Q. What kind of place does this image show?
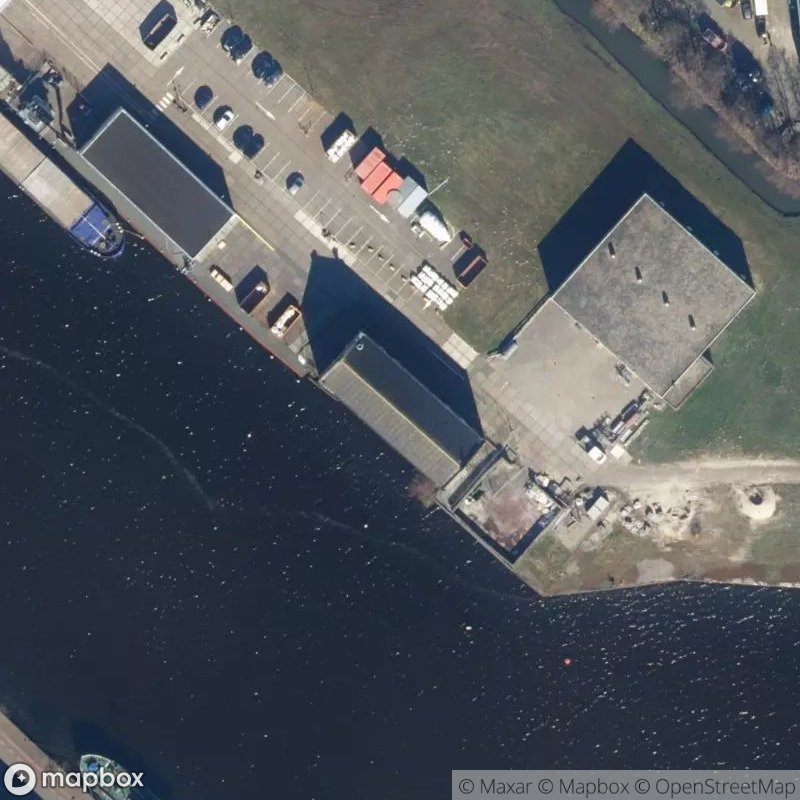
port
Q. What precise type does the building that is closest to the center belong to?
warehouse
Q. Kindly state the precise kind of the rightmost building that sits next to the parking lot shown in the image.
warehouse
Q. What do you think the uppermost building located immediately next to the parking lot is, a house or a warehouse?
warehouse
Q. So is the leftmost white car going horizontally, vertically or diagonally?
diagonally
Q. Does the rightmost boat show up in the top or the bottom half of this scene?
top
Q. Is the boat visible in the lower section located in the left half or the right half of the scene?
left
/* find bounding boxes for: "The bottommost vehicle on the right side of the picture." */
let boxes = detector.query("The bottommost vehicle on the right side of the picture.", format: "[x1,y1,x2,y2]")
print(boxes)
[588,445,607,463]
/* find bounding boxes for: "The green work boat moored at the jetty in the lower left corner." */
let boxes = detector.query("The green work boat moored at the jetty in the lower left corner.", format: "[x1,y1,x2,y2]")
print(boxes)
[78,752,144,800]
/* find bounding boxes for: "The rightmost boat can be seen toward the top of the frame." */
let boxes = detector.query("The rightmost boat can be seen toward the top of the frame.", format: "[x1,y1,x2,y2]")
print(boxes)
[420,212,452,242]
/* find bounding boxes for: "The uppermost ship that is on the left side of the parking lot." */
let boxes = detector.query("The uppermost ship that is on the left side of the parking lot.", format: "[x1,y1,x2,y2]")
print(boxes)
[0,103,146,259]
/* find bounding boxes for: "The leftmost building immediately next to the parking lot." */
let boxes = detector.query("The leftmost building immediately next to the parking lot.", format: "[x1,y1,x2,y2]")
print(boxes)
[80,105,234,259]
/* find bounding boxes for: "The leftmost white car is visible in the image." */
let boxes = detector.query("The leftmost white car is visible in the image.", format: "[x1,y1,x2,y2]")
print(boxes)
[213,109,234,131]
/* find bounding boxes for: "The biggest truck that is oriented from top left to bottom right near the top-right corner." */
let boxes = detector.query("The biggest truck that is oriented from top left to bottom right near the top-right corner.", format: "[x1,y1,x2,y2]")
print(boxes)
[703,25,728,51]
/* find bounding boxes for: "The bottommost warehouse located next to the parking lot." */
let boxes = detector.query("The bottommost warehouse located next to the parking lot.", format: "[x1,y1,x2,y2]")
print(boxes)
[318,329,486,489]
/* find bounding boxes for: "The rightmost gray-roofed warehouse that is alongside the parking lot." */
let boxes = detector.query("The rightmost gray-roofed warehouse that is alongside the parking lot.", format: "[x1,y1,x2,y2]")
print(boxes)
[552,190,756,395]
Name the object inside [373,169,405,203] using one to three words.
shipping container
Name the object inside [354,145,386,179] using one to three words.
shipping container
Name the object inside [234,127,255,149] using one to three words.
car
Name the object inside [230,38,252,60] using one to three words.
car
